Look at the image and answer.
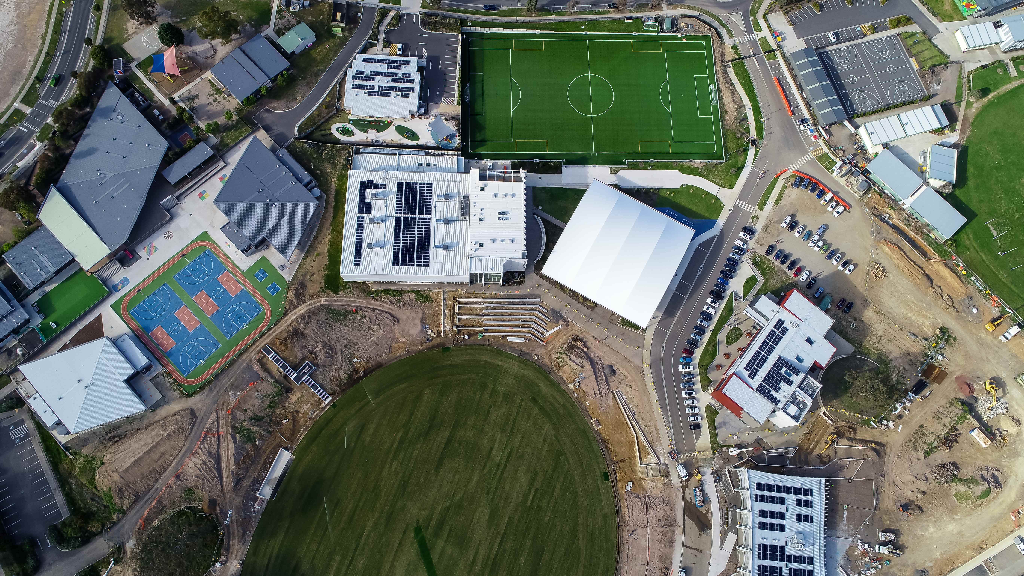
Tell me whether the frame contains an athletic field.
Yes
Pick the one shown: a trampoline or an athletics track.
athletics track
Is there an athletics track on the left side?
Yes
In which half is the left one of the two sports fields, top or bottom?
top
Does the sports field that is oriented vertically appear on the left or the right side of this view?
right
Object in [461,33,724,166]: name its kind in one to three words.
sports field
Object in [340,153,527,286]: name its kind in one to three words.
building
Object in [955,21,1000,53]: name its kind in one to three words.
building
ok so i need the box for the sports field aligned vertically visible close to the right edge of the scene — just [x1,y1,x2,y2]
[956,81,1024,285]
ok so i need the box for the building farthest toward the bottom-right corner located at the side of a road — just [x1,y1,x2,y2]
[727,468,831,576]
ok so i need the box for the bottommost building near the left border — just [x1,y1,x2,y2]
[17,334,153,433]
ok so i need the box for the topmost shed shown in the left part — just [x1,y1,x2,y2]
[277,22,315,57]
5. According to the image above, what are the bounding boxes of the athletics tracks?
[120,240,271,385]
